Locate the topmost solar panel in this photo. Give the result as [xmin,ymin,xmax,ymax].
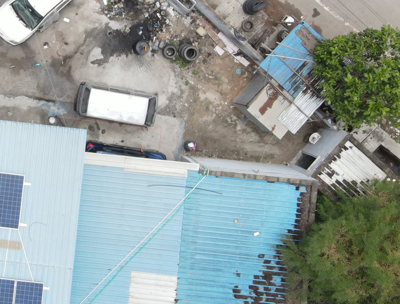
[0,172,25,229]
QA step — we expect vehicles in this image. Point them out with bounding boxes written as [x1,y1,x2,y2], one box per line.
[86,135,166,156]
[0,0,70,44]
[72,79,159,132]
